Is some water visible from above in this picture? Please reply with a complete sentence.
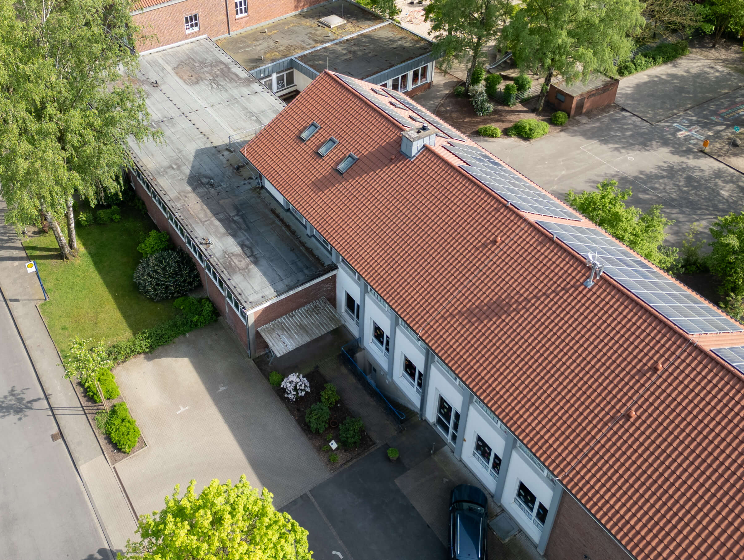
No, the picture contains no water.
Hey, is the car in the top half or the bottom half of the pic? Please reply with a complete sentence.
Seen from above, the car lies in the bottom half of the view.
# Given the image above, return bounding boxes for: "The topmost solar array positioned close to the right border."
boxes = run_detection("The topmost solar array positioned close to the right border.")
[541,221,741,333]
